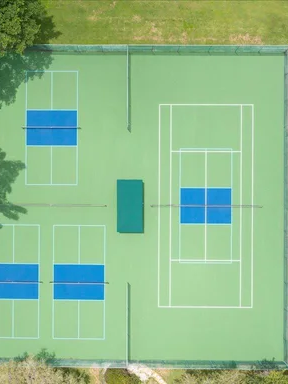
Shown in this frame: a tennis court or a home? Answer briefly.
tennis court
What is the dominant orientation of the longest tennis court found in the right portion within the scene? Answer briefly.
from top to bottom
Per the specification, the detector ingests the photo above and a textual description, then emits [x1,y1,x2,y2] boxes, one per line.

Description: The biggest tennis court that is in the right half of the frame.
[157,104,253,308]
